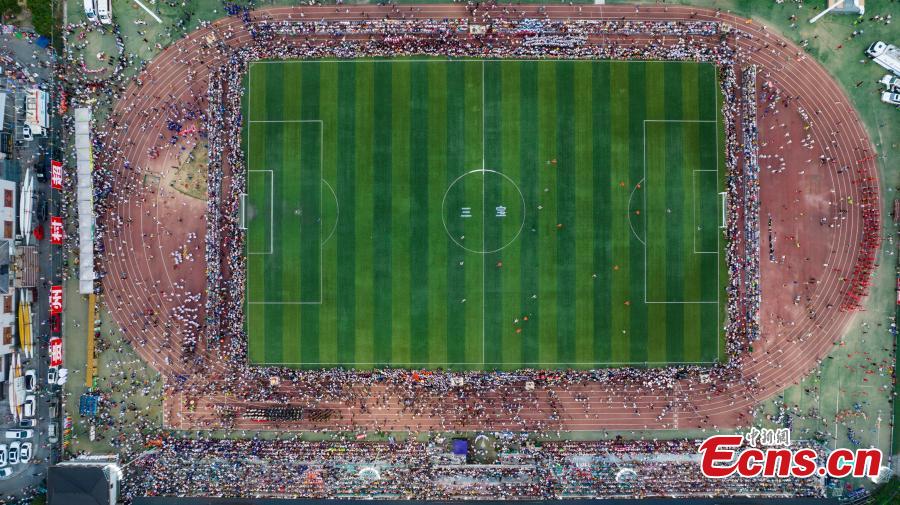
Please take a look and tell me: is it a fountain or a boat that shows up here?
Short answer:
boat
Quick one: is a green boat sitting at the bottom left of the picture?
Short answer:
No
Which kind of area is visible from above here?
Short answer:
sports ground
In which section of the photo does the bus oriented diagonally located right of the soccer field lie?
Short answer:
top right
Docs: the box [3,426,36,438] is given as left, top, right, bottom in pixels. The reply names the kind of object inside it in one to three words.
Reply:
vehicle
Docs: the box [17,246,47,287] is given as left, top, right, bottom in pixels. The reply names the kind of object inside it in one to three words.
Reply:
building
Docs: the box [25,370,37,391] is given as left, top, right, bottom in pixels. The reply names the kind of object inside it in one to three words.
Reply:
vehicle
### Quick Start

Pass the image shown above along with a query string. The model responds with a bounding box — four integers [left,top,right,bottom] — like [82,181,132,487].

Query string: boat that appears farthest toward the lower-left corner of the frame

[8,352,28,423]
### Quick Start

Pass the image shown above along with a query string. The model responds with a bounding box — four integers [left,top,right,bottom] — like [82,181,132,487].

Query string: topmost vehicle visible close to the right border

[860,43,900,78]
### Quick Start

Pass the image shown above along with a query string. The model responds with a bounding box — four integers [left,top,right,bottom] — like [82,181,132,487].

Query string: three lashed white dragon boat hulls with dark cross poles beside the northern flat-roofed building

[20,167,38,244]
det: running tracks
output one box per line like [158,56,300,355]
[86,4,879,432]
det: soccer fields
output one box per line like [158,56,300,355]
[244,56,725,369]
